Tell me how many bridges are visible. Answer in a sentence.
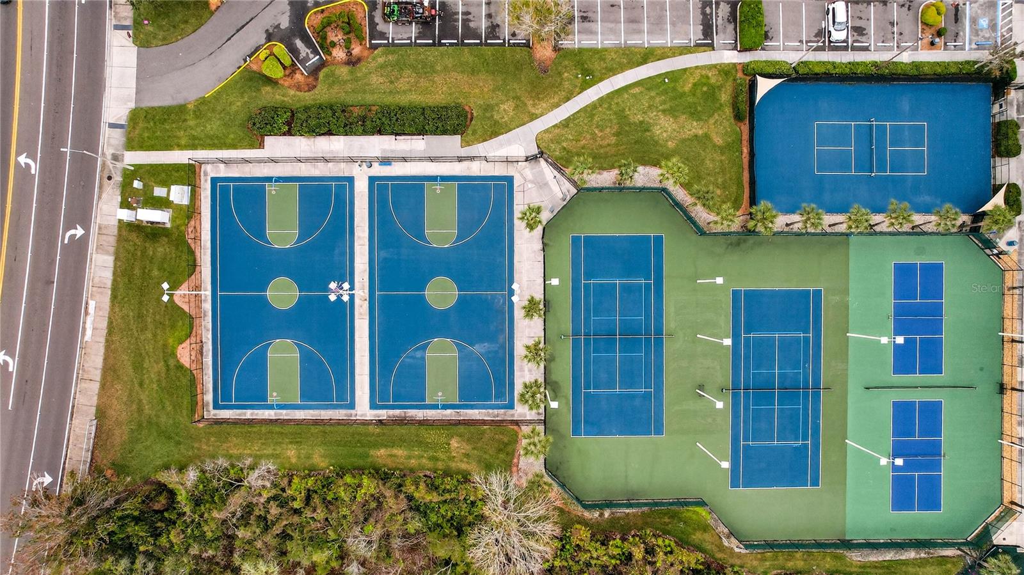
The photo contains no bridges.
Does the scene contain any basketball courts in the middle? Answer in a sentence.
Yes, I can see a basketball court in the middle.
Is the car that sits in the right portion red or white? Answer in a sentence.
The car that sits in the right portion is white.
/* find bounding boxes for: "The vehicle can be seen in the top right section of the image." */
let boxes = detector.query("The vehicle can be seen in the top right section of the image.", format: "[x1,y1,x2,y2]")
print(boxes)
[827,1,850,42]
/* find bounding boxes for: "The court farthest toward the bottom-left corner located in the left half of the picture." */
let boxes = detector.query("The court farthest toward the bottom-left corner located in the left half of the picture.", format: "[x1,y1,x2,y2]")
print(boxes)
[210,176,356,411]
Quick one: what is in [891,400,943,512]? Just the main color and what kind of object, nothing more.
blue sports court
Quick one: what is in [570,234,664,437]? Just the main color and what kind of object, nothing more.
blue tennis court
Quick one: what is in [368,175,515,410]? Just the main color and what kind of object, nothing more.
blue basketball court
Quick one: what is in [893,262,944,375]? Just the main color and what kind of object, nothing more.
blue sports court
